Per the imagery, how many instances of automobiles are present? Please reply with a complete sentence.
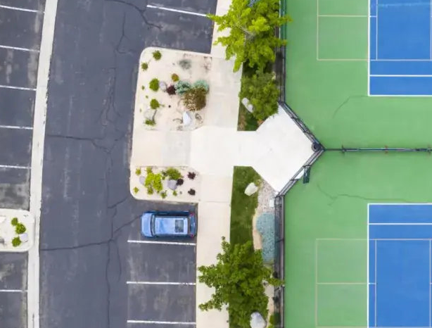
My tally gives 1 automobile in this photo.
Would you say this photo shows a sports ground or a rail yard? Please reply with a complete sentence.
This image shows a sports ground.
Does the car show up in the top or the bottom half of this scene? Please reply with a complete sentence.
The bottom half of the photo is where the car is.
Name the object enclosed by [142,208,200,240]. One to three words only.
car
